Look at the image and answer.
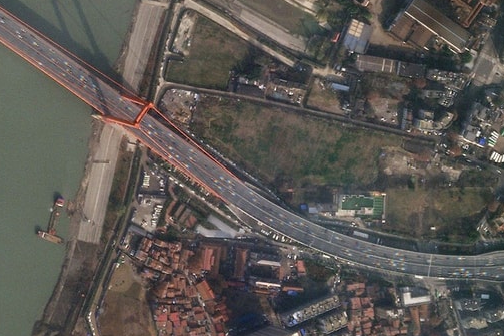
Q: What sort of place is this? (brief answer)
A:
port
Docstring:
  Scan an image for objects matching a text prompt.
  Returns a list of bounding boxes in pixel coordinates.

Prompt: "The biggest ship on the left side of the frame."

[38,229,64,244]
